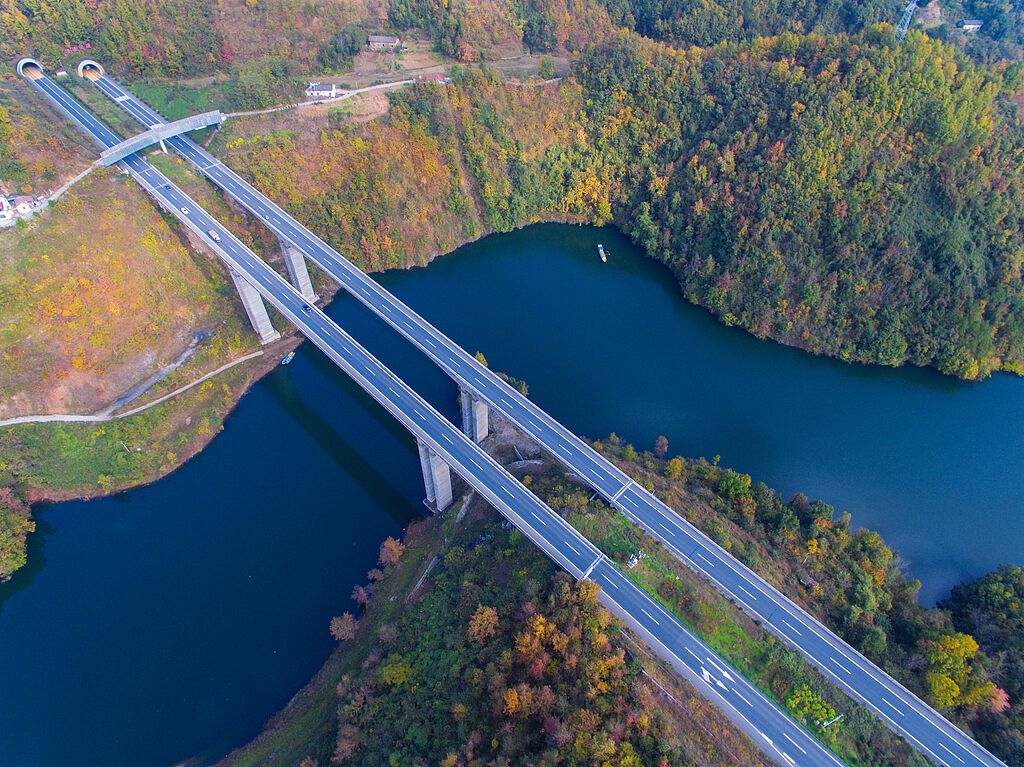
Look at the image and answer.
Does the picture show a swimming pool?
No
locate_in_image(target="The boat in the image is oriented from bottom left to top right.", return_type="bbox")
[282,351,297,365]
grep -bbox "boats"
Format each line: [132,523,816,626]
[597,244,611,262]
[282,351,297,365]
